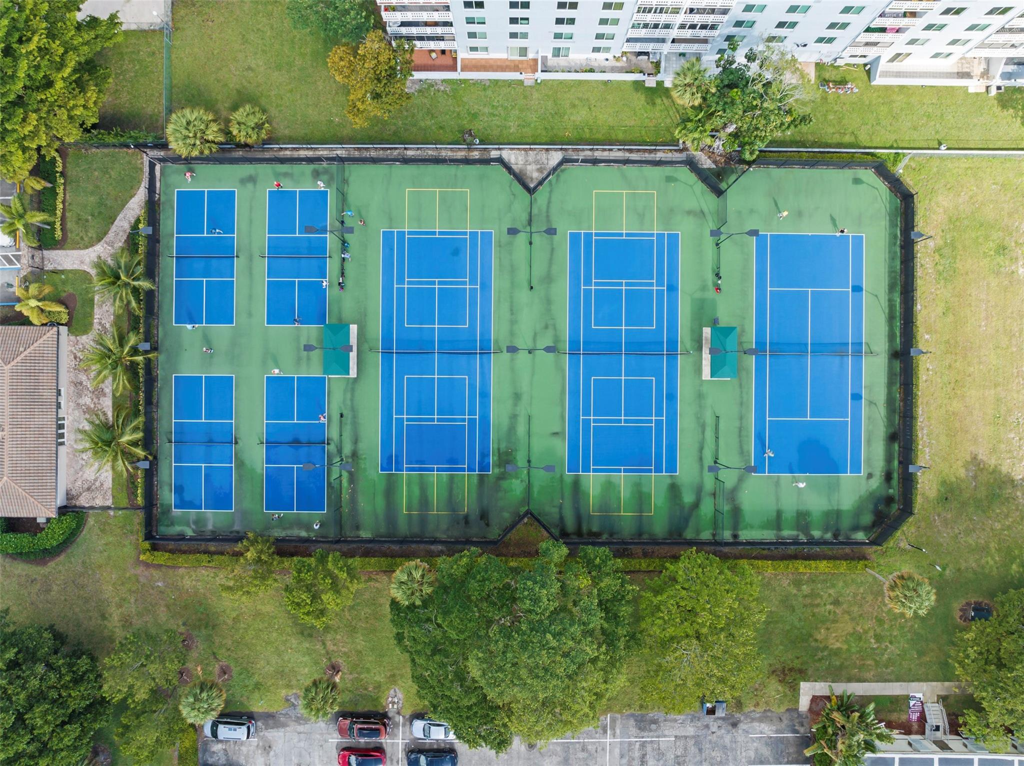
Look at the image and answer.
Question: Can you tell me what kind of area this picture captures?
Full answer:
It's a sports ground.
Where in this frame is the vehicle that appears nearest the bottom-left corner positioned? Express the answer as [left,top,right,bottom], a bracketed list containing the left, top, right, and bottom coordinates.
[203,717,255,744]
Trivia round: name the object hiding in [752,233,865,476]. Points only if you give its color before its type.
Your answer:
blue tennis court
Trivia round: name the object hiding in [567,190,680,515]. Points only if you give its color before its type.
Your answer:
blue tennis court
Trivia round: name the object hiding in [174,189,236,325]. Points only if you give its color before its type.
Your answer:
blue sports court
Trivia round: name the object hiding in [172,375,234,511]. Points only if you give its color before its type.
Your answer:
blue sports court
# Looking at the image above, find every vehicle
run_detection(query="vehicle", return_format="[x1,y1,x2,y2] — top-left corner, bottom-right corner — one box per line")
[408,719,455,745]
[406,749,455,766]
[0,228,14,248]
[337,718,388,745]
[337,747,385,766]
[203,717,255,744]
